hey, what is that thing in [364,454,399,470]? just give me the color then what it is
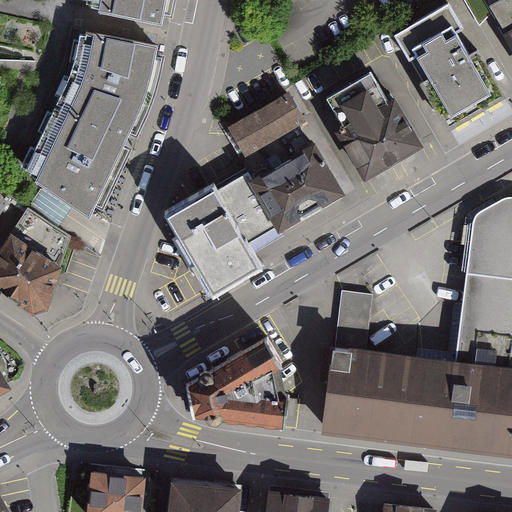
white vehicle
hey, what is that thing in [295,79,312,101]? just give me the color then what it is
white vehicle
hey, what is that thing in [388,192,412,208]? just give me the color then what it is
white car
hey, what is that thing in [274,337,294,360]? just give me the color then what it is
white car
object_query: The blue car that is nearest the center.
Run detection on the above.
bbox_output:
[288,248,312,266]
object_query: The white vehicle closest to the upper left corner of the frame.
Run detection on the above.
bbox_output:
[176,47,189,74]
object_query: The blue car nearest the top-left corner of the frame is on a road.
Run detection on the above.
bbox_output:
[160,105,172,129]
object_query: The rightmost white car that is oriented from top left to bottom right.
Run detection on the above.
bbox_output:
[487,58,504,81]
